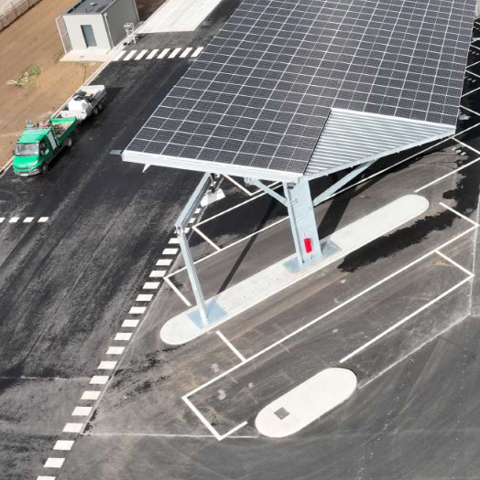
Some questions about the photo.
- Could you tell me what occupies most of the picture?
paved ground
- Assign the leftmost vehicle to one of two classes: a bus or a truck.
truck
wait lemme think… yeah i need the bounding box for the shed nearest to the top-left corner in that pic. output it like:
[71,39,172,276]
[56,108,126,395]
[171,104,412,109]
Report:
[58,0,143,47]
